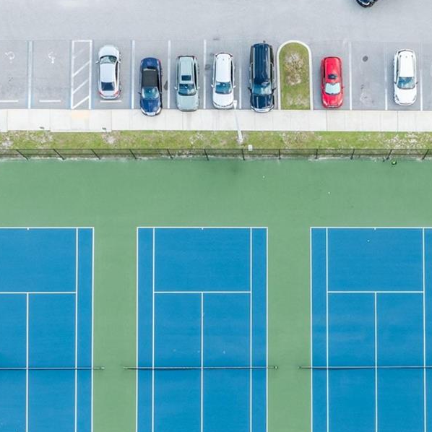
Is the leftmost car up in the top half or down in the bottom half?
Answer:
top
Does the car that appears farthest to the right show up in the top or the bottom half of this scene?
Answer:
top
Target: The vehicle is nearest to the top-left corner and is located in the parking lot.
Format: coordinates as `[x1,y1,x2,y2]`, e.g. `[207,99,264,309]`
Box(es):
[96,45,122,102]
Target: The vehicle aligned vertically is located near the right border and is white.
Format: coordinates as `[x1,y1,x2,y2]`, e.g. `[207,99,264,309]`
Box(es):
[393,47,420,107]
